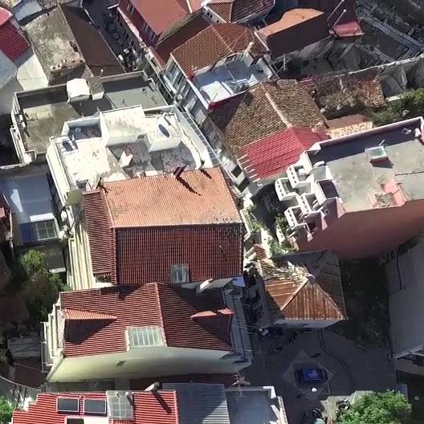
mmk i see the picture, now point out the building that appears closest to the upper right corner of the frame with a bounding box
[306,0,364,58]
